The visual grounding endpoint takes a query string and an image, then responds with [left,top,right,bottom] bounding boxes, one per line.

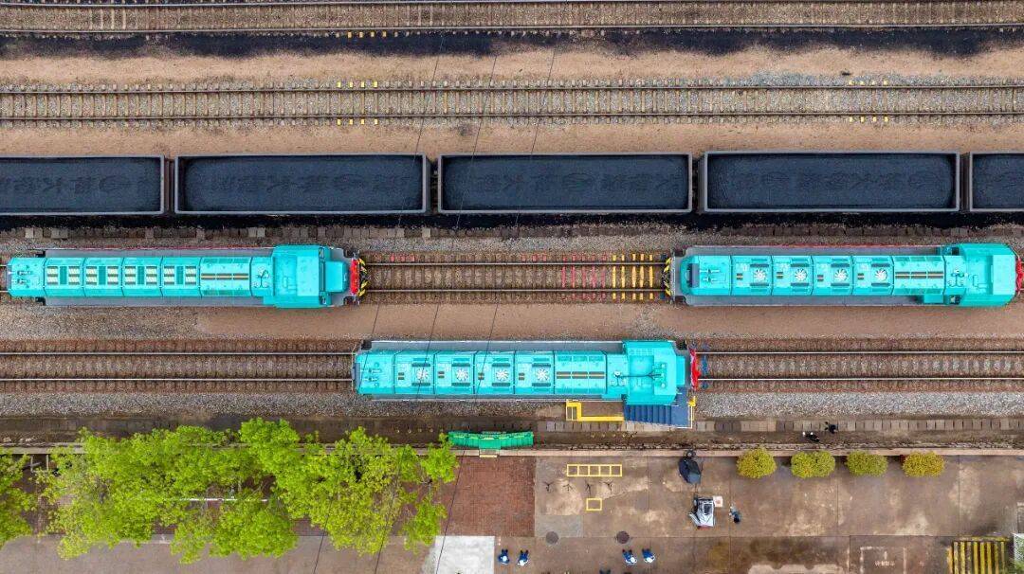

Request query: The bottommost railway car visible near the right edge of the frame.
[659,245,1018,307]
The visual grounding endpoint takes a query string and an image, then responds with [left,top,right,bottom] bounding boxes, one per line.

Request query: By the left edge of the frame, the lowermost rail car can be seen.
[8,246,370,308]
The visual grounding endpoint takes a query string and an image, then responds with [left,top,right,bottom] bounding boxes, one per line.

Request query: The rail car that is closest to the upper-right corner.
[944,150,1024,215]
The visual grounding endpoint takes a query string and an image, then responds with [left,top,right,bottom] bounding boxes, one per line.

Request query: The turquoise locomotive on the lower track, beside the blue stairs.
[347,339,694,403]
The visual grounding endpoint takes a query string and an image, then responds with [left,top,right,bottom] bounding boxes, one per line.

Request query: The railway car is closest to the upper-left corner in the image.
[0,154,184,219]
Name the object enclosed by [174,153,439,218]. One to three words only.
rail car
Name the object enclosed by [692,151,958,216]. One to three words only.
rail car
